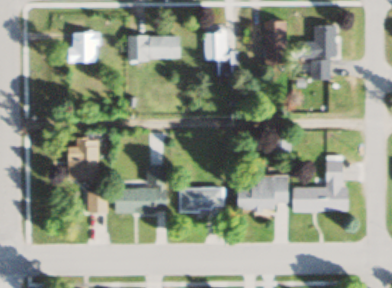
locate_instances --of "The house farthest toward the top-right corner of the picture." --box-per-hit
[300,24,336,80]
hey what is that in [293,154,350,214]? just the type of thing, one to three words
house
